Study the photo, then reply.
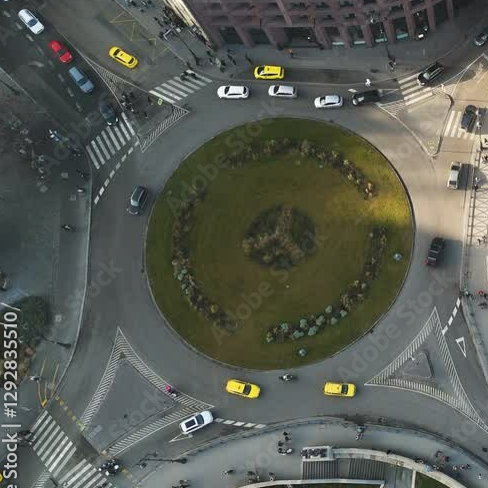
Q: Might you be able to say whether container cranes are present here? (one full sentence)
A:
No, there appears to be no container crane in this shot.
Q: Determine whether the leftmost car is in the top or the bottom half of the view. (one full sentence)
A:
The leftmost car sits in the top half of the picture.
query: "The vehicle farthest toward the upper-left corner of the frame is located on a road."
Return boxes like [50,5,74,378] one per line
[14,5,42,31]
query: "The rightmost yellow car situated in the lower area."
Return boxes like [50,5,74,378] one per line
[322,382,355,397]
